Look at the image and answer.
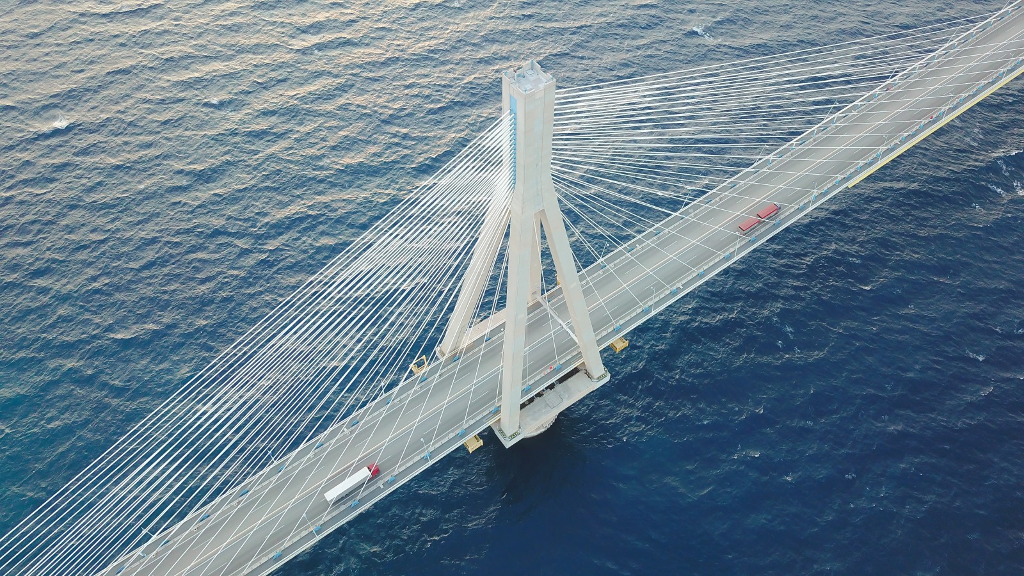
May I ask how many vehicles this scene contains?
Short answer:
two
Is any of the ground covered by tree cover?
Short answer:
No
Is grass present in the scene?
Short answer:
No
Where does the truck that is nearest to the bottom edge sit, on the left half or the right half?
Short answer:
left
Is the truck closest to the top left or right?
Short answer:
right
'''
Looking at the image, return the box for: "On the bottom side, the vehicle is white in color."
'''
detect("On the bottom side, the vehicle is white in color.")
[324,463,381,505]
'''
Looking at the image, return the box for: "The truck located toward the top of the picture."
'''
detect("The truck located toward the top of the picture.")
[737,204,781,236]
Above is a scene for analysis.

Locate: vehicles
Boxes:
[324,463,381,505]
[737,204,781,236]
